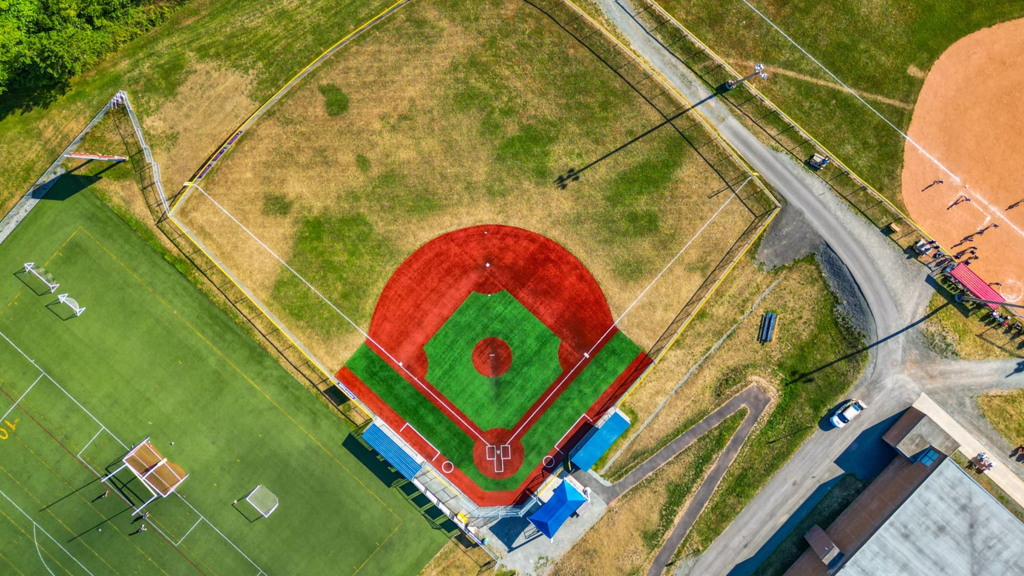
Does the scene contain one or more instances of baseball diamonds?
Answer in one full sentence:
Yes, a baseball diamond can be made out from above.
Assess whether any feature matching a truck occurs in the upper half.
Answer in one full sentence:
No, there's no truck to be seen in the upper half.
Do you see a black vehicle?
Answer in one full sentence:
No, the frame has no black vehicle in it.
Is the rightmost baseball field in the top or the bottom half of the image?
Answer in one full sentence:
You can find the rightmost baseball field in the top half.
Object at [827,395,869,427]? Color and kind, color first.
white truck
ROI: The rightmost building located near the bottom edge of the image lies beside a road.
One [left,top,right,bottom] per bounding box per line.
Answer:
[782,403,1024,576]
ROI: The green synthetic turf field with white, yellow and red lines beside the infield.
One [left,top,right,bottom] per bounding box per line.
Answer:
[0,172,457,576]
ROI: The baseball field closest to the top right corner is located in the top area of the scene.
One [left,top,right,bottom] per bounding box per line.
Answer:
[649,0,1024,326]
